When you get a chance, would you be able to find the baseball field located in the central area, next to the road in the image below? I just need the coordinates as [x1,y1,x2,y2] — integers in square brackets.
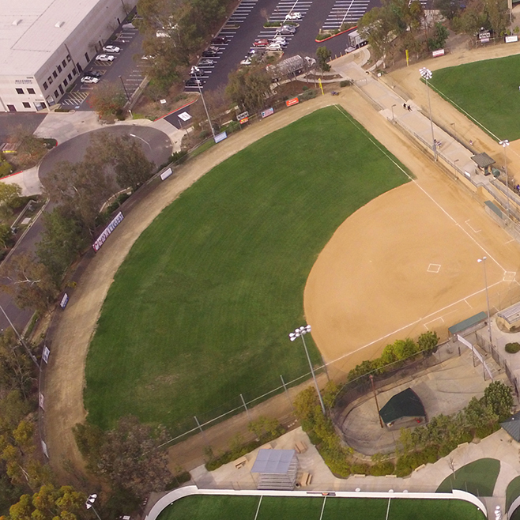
[85,104,520,451]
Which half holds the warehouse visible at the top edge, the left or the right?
left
